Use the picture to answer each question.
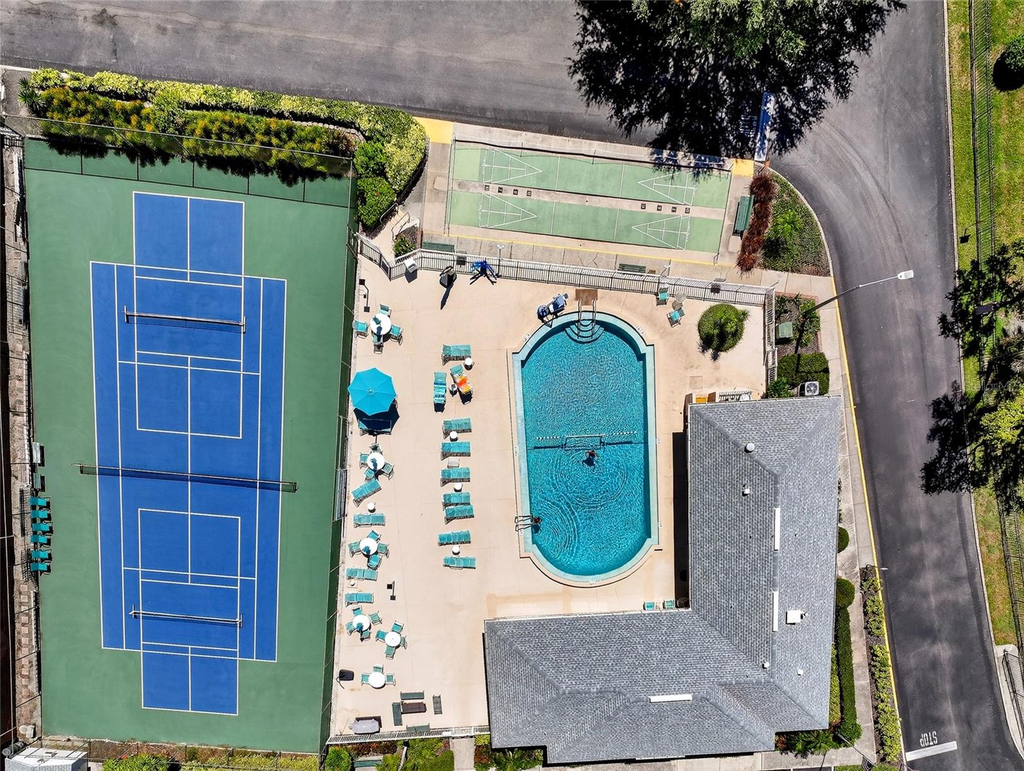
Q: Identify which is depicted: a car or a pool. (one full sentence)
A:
Looking from above, you can make out a pool.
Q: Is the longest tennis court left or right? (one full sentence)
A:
The longest tennis court is on the left side of the image.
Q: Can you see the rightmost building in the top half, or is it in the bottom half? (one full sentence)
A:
The bottom half of the photo is where the rightmost building is.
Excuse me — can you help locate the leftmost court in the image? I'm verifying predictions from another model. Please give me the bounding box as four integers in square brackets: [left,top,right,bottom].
[24,138,347,755]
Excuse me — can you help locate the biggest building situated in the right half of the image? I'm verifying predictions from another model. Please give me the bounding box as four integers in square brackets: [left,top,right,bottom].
[482,386,842,765]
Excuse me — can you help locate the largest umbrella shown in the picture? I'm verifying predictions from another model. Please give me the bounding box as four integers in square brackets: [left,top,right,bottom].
[350,365,399,416]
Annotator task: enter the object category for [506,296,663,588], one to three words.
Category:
swimming pool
